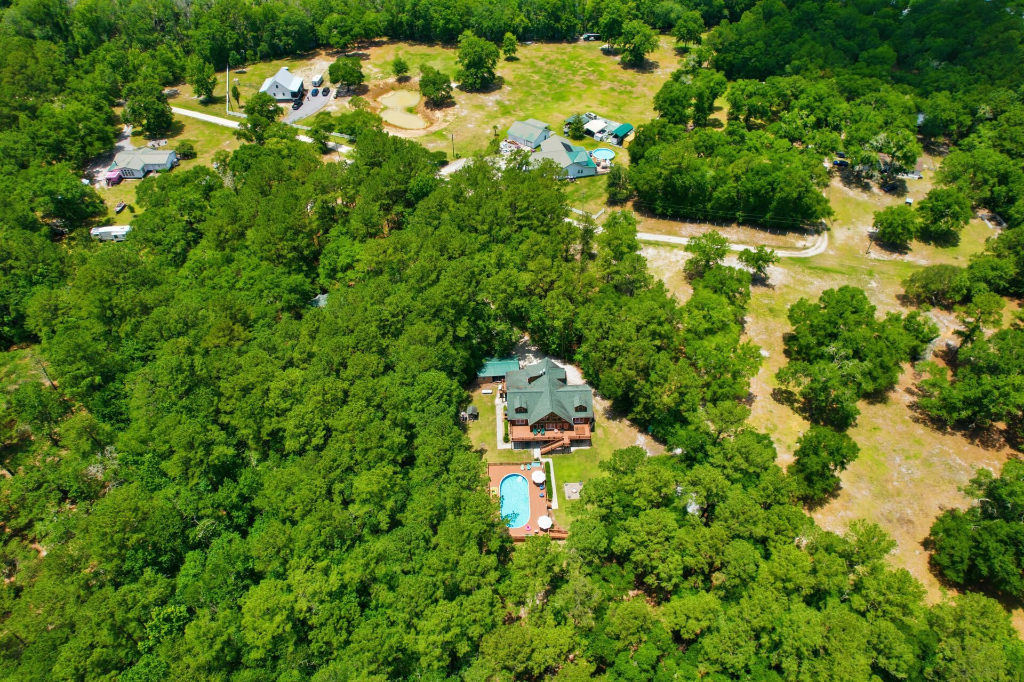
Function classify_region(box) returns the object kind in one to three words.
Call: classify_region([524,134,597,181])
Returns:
building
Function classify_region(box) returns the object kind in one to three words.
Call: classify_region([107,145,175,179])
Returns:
house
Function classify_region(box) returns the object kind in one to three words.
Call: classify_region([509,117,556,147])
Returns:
building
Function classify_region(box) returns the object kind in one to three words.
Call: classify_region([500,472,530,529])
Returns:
swimming pool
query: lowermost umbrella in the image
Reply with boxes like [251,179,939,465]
[538,517,552,530]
